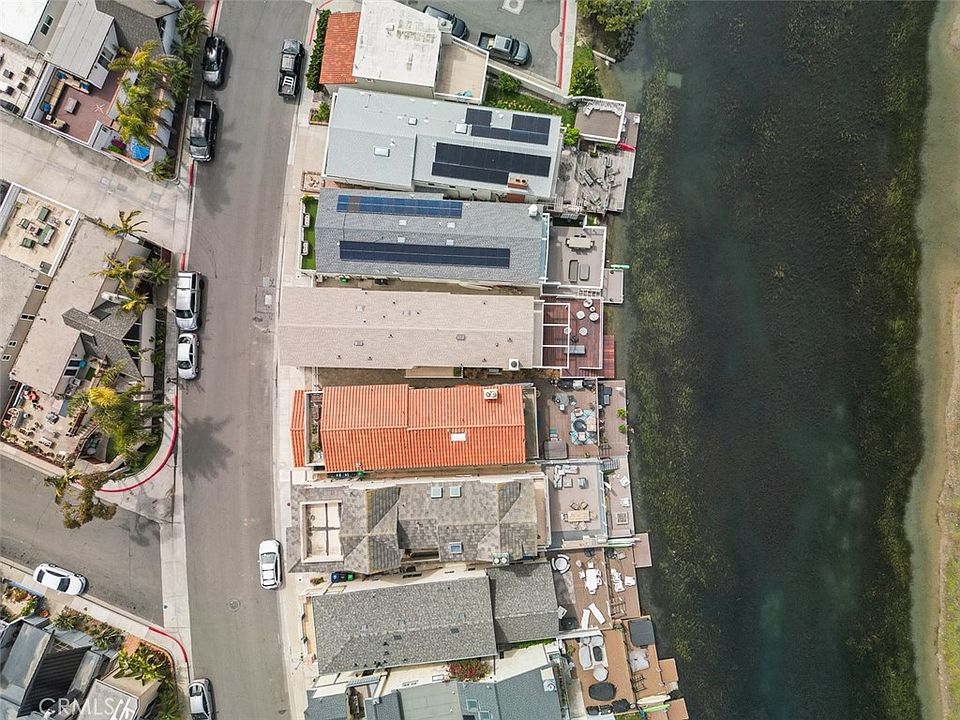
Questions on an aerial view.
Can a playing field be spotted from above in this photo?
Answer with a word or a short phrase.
No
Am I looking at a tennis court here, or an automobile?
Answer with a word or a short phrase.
automobile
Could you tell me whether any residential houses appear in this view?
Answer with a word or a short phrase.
Yes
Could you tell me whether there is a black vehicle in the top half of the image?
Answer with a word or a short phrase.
Yes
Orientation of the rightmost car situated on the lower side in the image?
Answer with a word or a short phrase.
up and down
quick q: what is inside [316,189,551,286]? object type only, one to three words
house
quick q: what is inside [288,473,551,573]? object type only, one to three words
house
